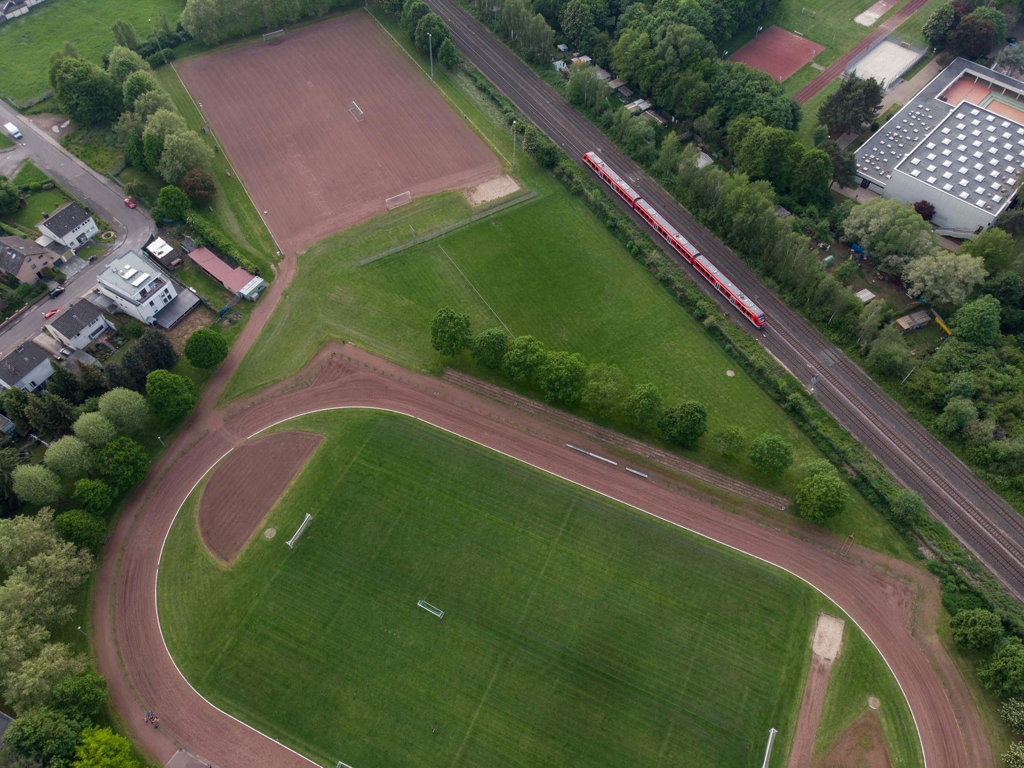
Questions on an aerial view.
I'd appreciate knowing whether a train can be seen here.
Yes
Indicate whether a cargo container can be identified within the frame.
No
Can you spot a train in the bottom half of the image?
No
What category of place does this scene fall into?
sports ground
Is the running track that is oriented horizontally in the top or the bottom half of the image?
bottom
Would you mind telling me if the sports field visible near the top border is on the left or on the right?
left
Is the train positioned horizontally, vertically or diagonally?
diagonally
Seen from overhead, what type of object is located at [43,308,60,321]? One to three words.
vehicle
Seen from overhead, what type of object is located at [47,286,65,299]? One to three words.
vehicle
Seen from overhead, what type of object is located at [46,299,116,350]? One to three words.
house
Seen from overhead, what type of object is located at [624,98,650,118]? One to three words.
shed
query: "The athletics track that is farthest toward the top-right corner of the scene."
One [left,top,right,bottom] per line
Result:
[794,0,930,104]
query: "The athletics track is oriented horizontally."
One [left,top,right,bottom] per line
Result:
[106,358,980,768]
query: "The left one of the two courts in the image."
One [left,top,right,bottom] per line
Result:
[727,26,825,82]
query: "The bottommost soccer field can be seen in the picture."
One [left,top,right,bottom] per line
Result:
[156,407,926,768]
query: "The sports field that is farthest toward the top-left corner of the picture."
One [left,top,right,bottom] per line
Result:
[180,14,504,254]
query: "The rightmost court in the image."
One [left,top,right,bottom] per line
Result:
[843,30,931,94]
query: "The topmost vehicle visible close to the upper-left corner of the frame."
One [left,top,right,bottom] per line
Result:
[2,124,19,139]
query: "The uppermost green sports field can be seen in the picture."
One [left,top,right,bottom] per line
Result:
[333,187,911,557]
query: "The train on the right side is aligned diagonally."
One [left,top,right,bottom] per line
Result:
[585,150,768,331]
